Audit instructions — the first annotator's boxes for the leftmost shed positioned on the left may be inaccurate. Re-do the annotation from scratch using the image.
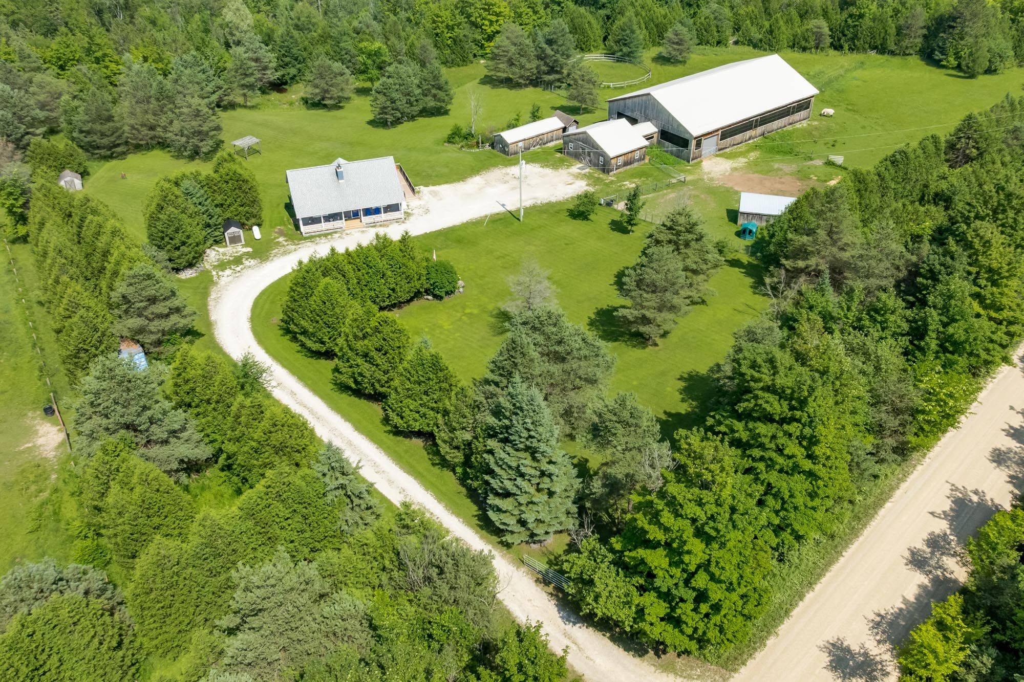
[52,167,84,193]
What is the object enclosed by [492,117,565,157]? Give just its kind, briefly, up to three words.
shed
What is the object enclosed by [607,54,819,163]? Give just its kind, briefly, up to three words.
barn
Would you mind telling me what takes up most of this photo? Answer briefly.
trees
